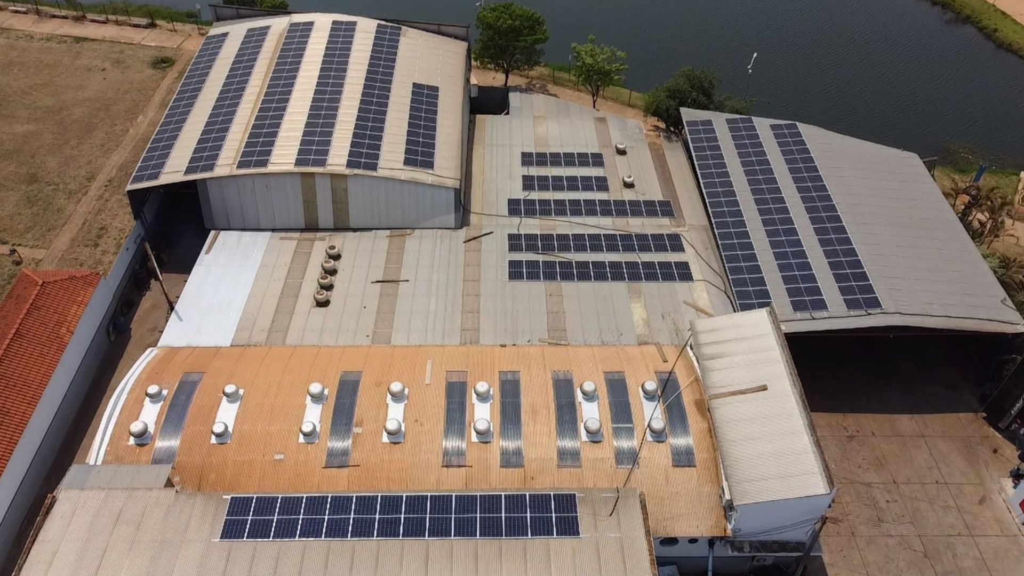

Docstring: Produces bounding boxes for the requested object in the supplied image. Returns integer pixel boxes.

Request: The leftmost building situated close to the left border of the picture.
[0,268,103,470]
